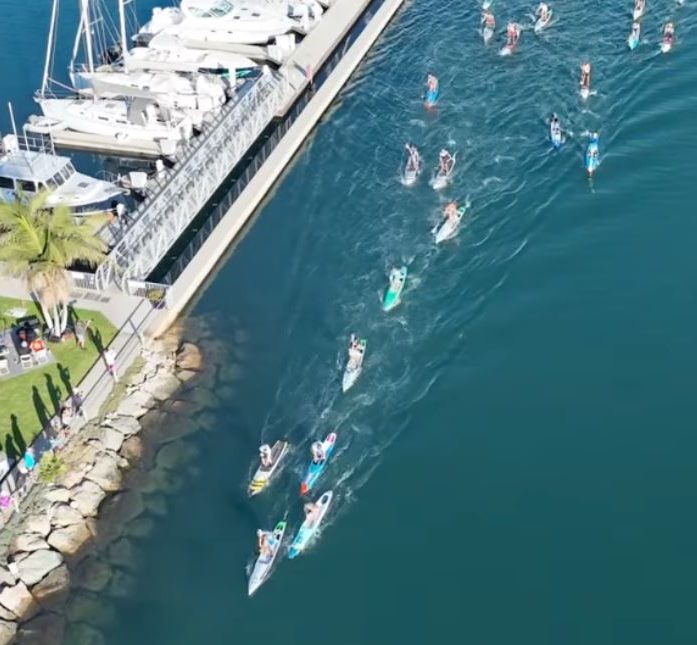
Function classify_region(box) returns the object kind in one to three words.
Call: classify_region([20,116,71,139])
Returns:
boat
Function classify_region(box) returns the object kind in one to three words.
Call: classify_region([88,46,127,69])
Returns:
boat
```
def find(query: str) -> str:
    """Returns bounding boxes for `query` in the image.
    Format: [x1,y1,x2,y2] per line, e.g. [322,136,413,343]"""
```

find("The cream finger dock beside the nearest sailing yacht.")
[23,132,193,163]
